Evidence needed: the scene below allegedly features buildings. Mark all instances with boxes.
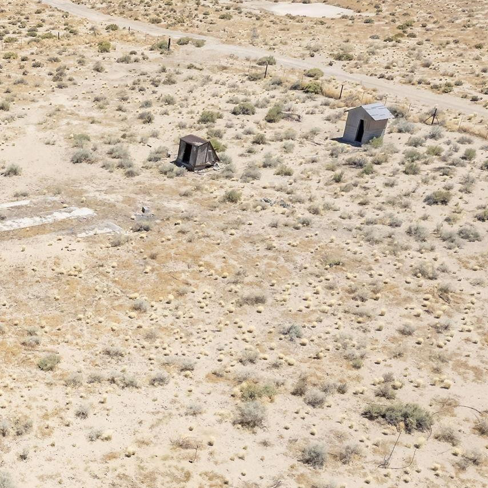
[343,106,393,145]
[177,136,218,168]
